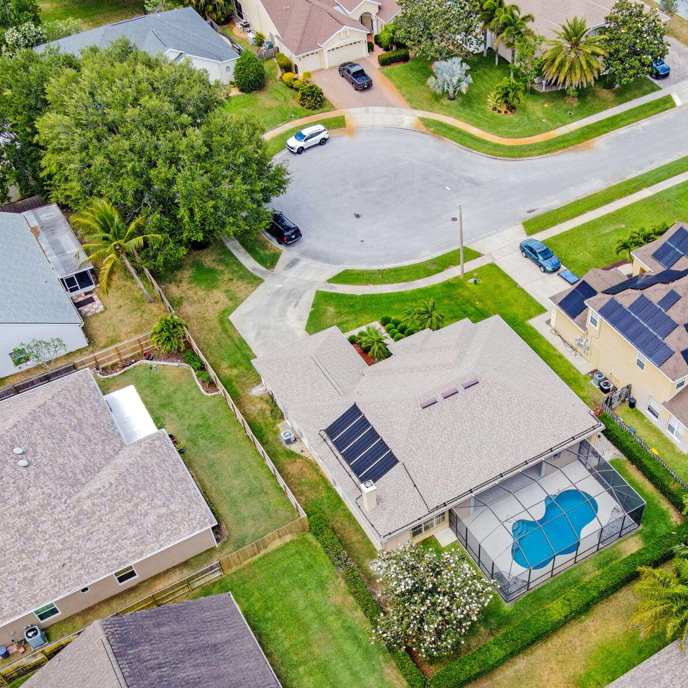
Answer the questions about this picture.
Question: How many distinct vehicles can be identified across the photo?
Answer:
5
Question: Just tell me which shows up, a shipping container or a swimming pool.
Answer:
swimming pool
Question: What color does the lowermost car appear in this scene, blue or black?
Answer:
blue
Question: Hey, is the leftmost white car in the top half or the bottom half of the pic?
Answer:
top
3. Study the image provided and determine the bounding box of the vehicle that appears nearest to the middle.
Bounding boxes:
[259,210,305,243]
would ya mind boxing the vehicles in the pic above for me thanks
[642,54,677,79]
[259,210,305,243]
[518,234,561,273]
[338,59,371,88]
[285,124,330,152]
